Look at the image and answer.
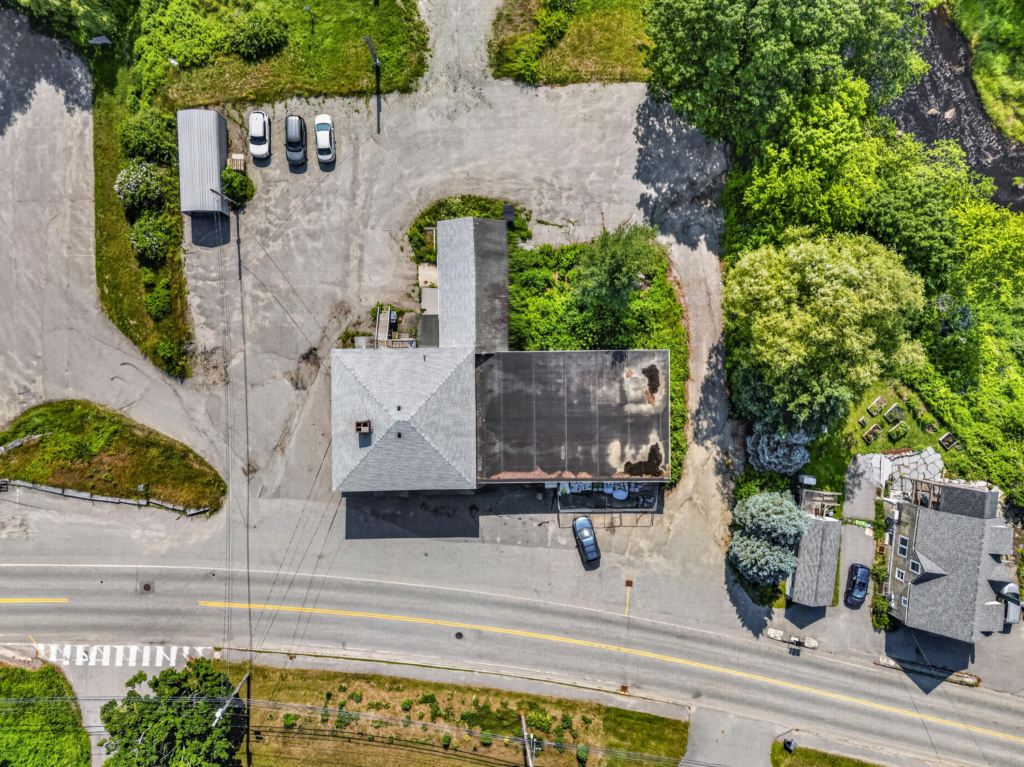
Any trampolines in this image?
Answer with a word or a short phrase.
No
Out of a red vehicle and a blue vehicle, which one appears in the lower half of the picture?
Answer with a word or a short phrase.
blue vehicle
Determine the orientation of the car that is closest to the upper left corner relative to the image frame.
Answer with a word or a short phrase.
from top to bottom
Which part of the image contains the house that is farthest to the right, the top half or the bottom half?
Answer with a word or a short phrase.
bottom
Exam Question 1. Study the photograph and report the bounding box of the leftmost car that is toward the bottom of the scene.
[572,514,601,564]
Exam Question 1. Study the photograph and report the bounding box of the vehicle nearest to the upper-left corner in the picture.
[248,111,273,160]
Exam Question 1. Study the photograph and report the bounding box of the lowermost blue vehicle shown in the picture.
[842,560,871,608]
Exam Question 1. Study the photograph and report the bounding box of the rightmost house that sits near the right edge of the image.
[887,485,1018,644]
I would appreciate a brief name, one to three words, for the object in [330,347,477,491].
building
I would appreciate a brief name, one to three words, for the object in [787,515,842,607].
building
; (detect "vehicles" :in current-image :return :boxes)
[248,111,273,160]
[842,560,871,608]
[284,116,309,166]
[312,115,336,163]
[572,514,601,564]
[998,583,1024,630]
